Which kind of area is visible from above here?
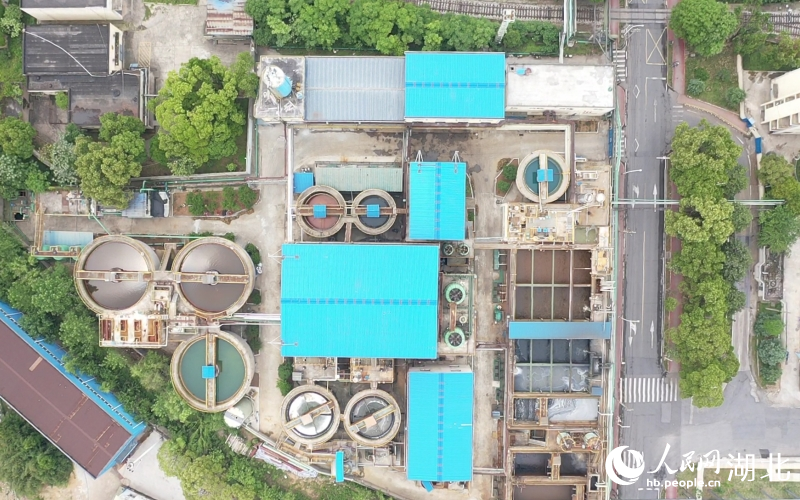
industrial area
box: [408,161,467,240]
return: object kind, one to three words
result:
building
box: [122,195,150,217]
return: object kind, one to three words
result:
shed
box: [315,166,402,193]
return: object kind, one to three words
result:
shed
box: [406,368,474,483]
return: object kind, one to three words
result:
building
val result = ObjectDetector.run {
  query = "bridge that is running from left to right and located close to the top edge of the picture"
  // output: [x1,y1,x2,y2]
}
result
[603,7,682,27]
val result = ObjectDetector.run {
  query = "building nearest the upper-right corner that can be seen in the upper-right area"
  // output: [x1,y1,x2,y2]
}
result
[762,66,800,133]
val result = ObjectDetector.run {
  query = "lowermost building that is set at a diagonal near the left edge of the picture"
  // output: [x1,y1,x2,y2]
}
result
[0,305,144,481]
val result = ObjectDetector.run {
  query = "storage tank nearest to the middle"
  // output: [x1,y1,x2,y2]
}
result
[351,188,398,235]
